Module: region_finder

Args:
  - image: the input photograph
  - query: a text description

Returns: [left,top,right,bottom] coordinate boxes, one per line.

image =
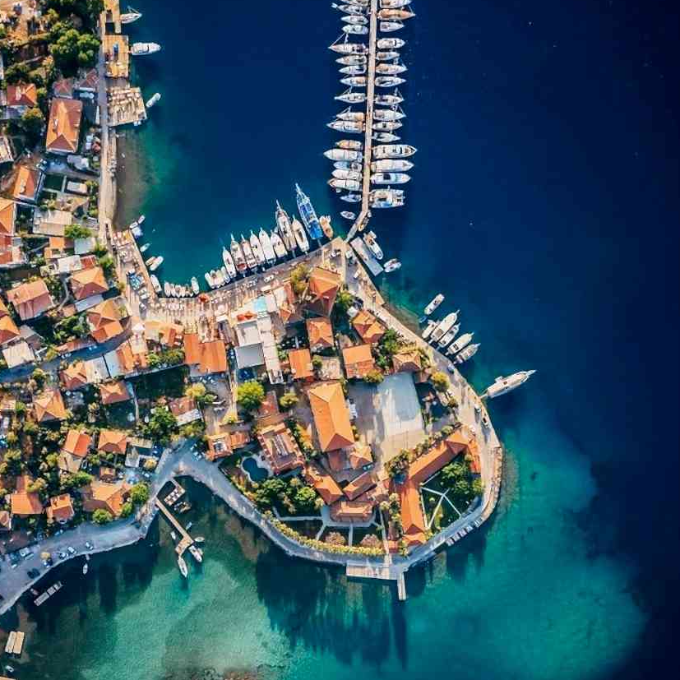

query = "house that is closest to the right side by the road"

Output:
[467,438,481,473]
